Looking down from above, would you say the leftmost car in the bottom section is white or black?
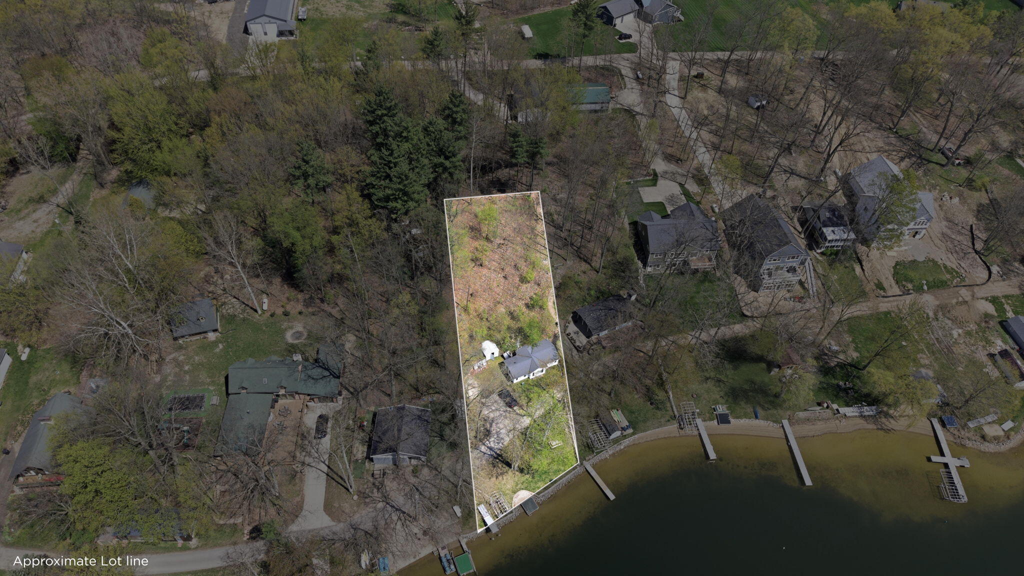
black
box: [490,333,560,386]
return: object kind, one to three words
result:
house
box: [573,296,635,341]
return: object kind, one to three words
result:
building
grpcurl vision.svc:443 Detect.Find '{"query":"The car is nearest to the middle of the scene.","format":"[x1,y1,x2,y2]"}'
[496,386,520,409]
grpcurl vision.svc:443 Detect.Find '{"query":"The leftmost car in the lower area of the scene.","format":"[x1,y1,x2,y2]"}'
[310,412,330,439]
